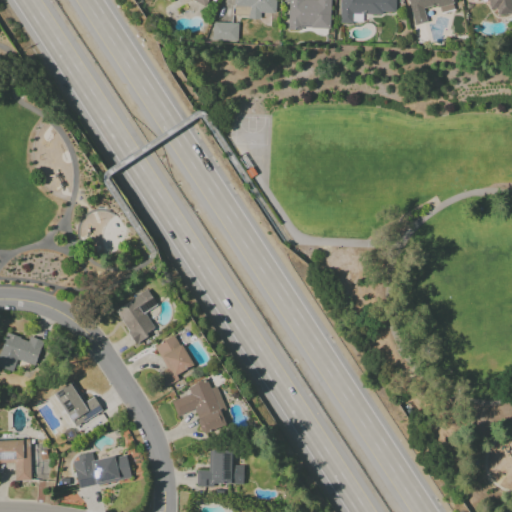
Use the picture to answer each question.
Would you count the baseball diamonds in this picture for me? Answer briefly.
none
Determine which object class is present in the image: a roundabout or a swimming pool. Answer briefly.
swimming pool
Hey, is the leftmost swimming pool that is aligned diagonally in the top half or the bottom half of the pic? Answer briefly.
bottom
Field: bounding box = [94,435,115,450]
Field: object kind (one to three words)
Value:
swimming pool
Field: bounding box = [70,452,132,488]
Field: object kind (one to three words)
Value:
house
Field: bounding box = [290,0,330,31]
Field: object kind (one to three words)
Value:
house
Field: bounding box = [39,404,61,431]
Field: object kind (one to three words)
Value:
swimming pool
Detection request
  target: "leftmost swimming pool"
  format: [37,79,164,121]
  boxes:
[12,408,27,432]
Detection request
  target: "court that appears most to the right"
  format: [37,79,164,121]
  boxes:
[230,114,272,180]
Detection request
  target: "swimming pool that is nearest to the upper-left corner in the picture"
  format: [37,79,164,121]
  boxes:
[175,16,204,32]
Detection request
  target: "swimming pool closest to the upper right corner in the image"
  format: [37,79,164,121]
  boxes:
[474,21,507,36]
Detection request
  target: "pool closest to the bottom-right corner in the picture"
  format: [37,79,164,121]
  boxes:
[250,488,278,500]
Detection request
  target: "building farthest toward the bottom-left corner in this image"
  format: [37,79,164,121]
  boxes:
[0,440,32,479]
